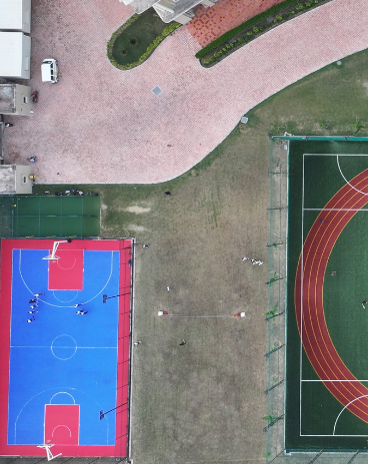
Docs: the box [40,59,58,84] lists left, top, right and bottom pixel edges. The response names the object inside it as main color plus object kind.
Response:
white vehicle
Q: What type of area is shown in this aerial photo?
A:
sports ground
